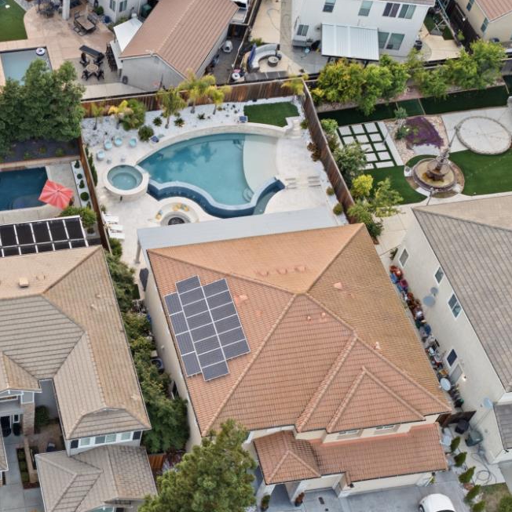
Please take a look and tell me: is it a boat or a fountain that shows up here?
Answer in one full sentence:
Looking from above, you can make out a fountain.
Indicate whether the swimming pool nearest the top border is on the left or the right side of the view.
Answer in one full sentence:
You can find the swimming pool nearest the top border on the left side of the picture.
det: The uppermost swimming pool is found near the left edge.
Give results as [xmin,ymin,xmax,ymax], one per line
[1,47,51,82]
